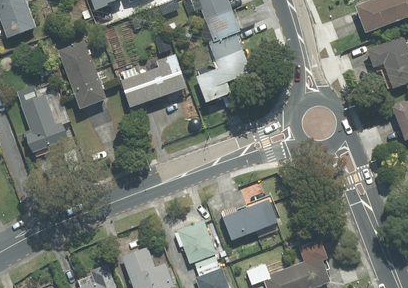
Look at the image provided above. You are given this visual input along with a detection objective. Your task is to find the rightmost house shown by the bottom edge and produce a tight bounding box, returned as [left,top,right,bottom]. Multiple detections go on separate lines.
[266,242,330,288]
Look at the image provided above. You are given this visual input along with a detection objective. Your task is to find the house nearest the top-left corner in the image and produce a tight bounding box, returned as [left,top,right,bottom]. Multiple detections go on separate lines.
[0,0,36,38]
